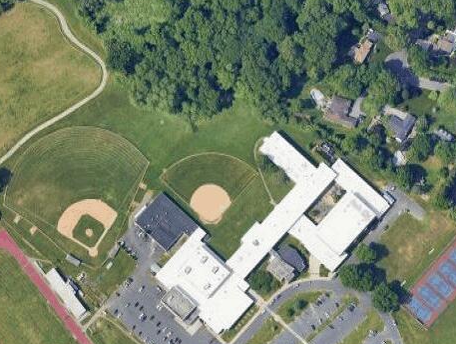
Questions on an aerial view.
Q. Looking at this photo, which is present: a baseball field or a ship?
baseball field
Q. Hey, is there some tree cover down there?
Yes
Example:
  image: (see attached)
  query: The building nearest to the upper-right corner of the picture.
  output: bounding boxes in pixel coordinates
[418,32,456,53]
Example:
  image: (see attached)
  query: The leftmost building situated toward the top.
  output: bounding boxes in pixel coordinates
[324,96,356,129]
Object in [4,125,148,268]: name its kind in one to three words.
baseball field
